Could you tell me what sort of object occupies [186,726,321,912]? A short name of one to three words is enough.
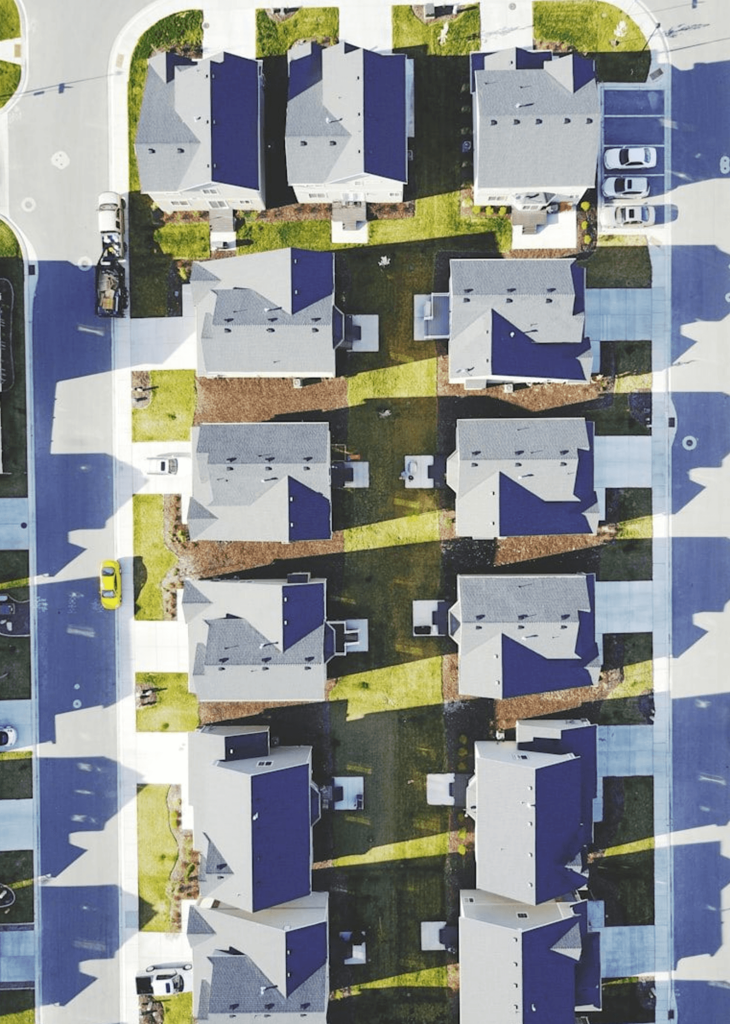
house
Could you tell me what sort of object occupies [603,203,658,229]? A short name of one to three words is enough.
car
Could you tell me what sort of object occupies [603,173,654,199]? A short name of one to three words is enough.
car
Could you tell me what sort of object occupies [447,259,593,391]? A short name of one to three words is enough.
house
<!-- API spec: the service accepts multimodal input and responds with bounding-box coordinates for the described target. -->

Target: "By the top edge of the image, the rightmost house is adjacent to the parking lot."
[470,47,601,210]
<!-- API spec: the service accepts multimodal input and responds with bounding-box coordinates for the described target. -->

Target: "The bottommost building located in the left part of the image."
[187,895,328,1024]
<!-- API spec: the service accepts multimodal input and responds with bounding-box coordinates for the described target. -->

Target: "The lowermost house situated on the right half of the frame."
[456,891,601,1024]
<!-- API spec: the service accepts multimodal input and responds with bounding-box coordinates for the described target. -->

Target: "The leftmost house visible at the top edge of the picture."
[135,51,263,209]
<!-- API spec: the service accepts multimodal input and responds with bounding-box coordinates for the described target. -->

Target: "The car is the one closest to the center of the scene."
[136,455,190,480]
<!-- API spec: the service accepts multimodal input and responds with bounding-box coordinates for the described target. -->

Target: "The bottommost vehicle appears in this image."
[128,966,191,999]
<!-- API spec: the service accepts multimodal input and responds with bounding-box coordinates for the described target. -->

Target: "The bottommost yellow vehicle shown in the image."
[96,559,121,609]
